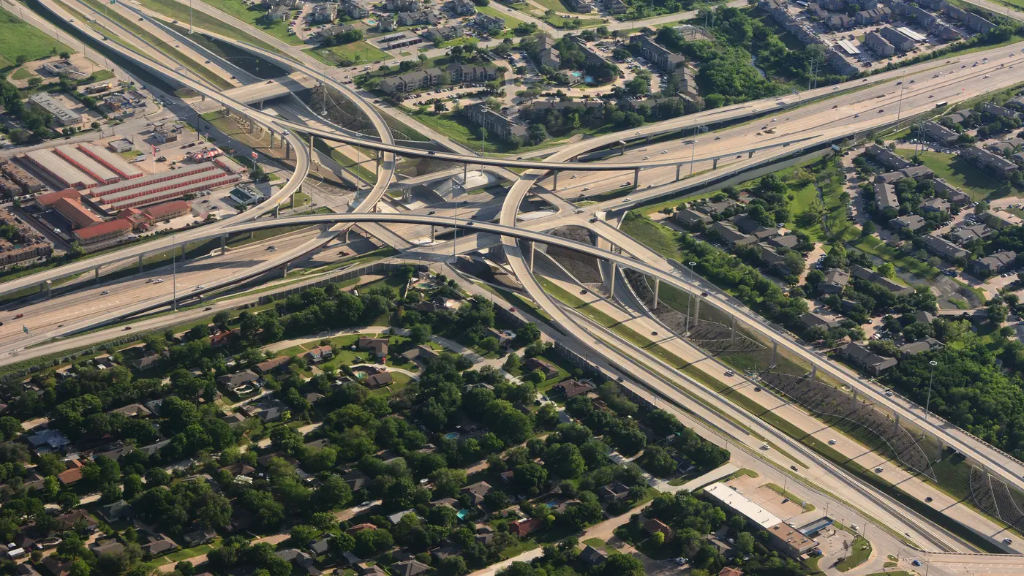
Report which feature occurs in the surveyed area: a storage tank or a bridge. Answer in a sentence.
It is a bridge that can be seen here.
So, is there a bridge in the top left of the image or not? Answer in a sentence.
Yes, a bridge is visible in the top left of the image.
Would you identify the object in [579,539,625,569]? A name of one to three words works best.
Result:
house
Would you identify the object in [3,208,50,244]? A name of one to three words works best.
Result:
building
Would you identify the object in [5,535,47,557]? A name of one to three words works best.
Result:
house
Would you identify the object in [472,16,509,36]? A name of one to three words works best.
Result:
building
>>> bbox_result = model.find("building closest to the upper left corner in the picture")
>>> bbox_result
[43,59,75,80]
